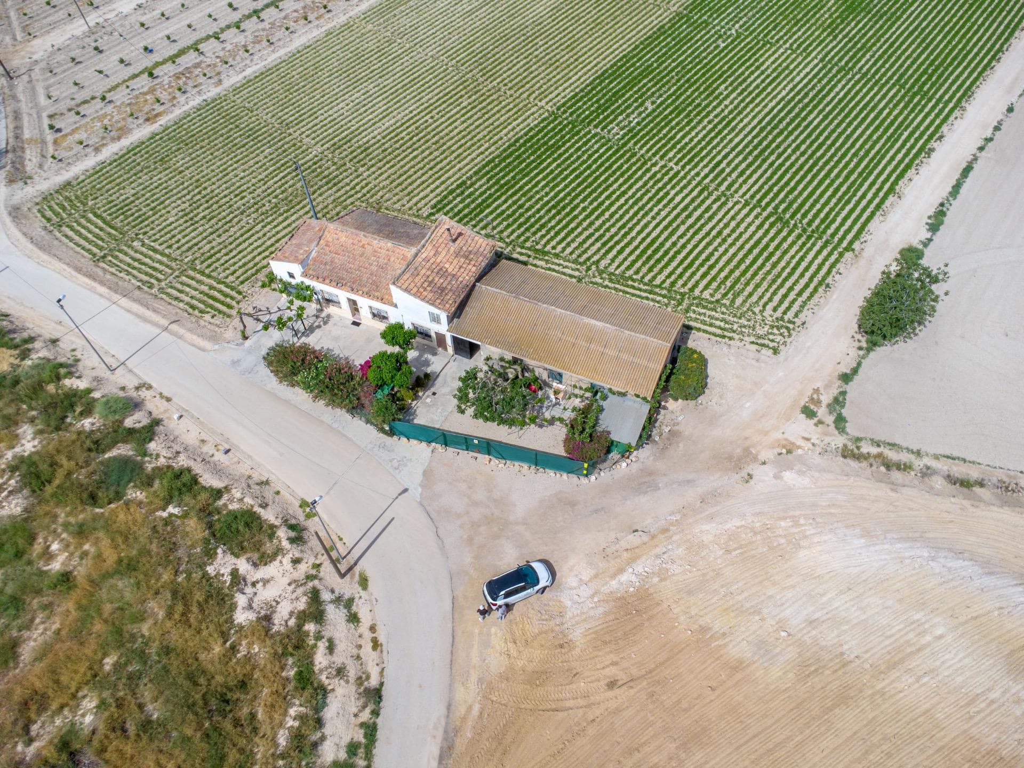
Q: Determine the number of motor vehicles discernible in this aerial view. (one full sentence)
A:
In total, 1 motor vehicle can be seen.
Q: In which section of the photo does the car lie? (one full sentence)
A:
Look in the bottom portion of the view to spot the car.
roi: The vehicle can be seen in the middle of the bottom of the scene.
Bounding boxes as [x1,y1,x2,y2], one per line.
[482,563,553,612]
